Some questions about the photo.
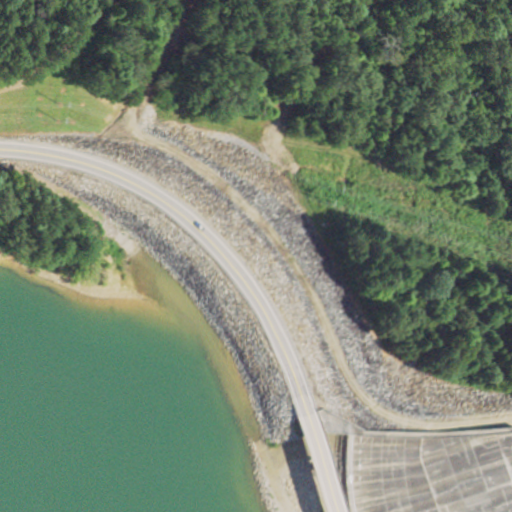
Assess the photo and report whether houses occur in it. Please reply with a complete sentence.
No, no house can be seen from above.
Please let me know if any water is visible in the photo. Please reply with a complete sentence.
Yes, some water is visible.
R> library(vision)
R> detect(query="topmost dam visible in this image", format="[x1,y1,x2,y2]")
[0,122,512,444]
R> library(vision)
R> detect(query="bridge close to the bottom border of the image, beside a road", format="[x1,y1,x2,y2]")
[306,427,350,512]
